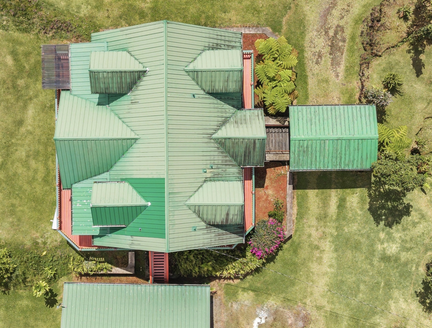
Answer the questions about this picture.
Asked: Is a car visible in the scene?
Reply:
No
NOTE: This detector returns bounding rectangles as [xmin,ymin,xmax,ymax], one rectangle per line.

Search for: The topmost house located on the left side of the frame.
[42,20,268,285]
